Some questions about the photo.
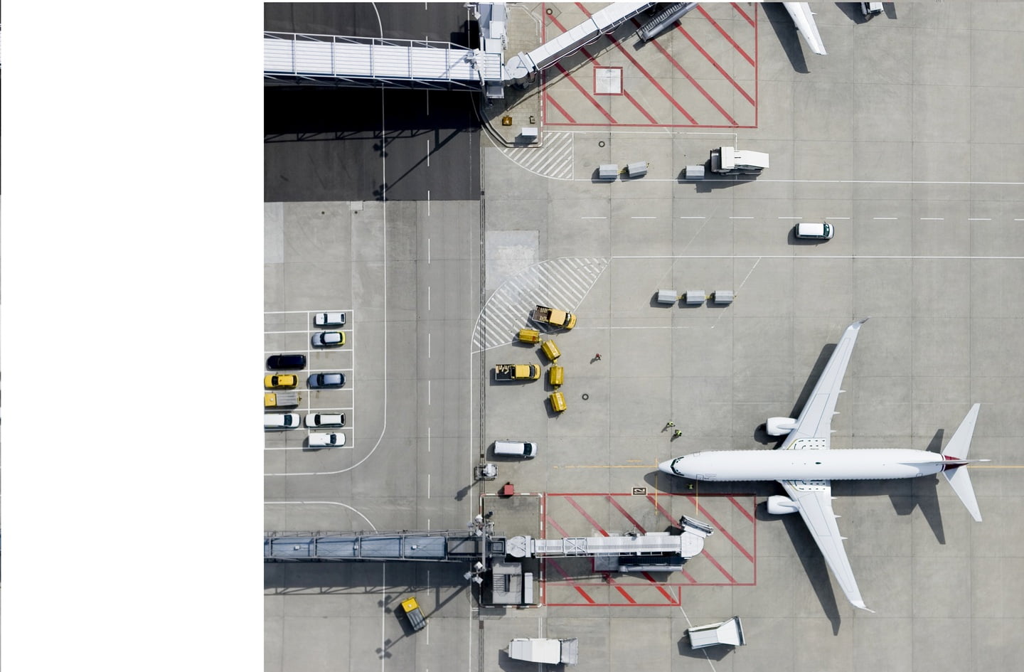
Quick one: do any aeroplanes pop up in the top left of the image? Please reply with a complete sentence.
No, looking in the top left of the image, there is no aeroplane.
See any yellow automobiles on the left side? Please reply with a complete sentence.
Yes, you'll find a yellow automobile on the left side.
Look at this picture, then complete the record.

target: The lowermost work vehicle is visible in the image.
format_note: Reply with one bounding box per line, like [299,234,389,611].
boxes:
[400,596,428,631]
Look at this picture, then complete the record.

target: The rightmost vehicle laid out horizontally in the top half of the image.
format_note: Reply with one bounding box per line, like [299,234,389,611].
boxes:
[795,222,833,240]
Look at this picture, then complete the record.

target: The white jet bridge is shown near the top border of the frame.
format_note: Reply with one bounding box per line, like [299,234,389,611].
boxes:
[506,0,709,90]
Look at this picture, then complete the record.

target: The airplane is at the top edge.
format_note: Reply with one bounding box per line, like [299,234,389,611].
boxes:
[780,0,820,55]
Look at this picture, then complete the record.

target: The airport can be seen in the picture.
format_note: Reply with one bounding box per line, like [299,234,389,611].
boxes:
[265,0,1024,672]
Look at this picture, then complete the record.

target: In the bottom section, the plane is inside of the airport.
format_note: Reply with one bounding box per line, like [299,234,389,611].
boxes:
[658,316,990,612]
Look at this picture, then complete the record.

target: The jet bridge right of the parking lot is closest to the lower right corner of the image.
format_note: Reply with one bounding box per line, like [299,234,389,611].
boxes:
[507,517,715,572]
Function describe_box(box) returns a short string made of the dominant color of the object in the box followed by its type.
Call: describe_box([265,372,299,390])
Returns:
yellow car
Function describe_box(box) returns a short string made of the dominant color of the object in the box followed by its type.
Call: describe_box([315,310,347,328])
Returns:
white car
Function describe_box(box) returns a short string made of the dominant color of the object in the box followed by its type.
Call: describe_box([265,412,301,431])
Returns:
white vehicle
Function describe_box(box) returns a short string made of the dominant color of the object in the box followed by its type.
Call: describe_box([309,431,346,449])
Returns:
white vehicle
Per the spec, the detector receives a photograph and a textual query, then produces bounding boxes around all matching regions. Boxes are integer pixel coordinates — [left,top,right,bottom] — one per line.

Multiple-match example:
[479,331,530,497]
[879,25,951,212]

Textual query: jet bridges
[507,517,715,572]
[506,0,709,90]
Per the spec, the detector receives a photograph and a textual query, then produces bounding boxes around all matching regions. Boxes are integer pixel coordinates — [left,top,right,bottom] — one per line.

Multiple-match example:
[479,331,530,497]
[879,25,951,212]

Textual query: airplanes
[658,316,990,612]
[780,0,820,55]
